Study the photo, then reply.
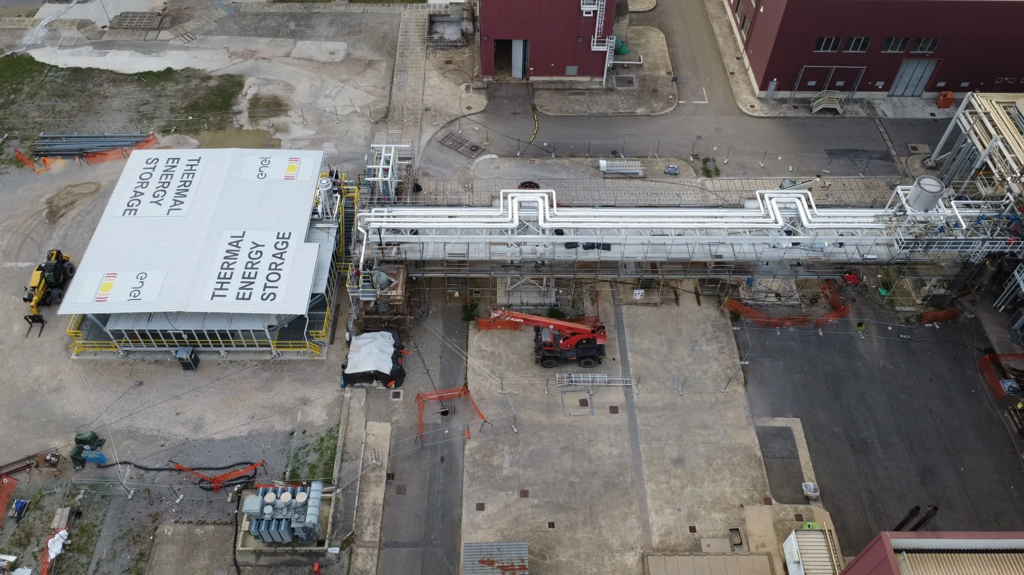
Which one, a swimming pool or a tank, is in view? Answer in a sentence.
Looking from above, you can make out a tank.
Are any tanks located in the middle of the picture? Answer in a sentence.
No, no tank is visible in the middle of the picture.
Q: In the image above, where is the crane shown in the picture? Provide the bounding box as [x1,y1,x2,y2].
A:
[493,310,608,366]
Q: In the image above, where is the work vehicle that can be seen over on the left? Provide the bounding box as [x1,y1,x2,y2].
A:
[9,249,74,335]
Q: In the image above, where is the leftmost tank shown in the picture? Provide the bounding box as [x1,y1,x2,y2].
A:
[248,498,304,530]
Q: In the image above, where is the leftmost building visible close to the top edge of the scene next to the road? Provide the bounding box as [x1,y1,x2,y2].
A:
[477,0,614,84]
